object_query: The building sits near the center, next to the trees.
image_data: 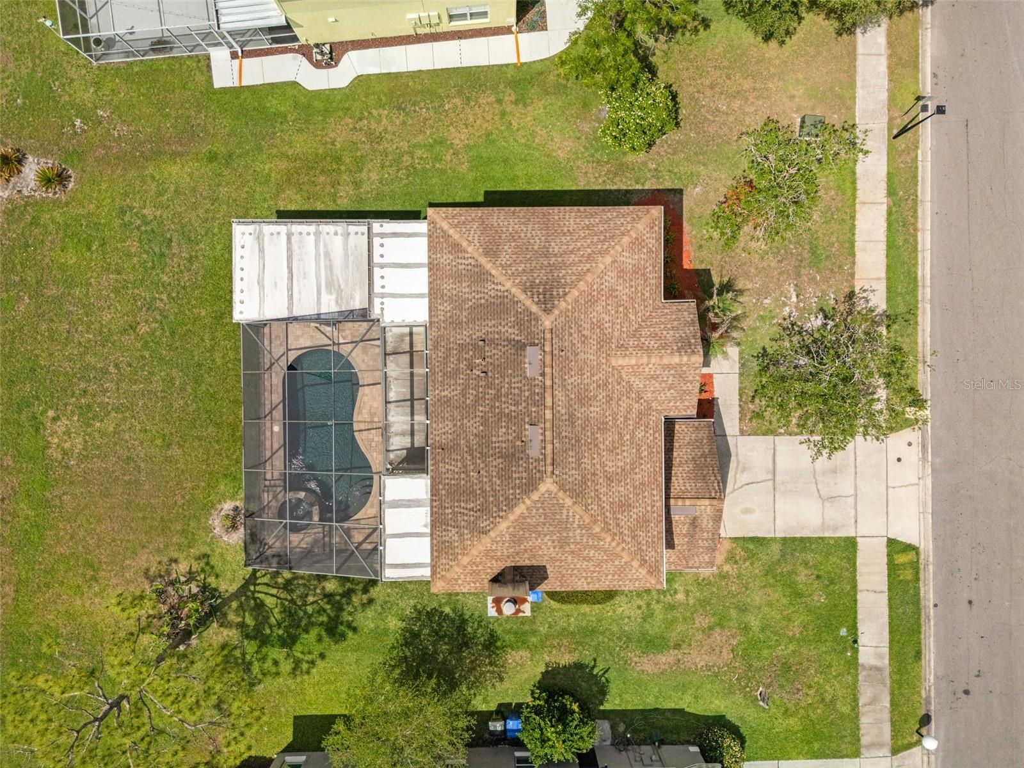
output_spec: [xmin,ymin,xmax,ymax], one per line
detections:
[428,204,727,617]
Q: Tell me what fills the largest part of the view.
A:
grass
